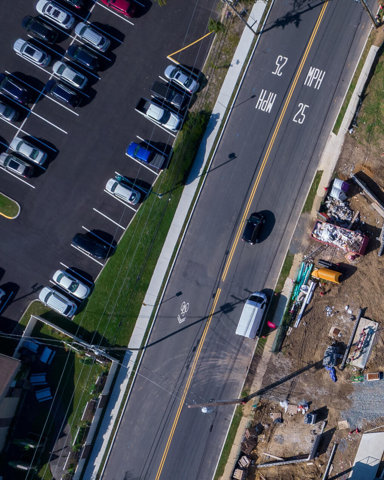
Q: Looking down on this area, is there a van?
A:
Yes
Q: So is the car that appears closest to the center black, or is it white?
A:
black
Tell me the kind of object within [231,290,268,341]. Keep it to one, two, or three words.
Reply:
van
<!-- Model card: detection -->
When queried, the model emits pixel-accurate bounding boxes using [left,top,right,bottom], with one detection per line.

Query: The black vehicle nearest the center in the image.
[240,210,267,248]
